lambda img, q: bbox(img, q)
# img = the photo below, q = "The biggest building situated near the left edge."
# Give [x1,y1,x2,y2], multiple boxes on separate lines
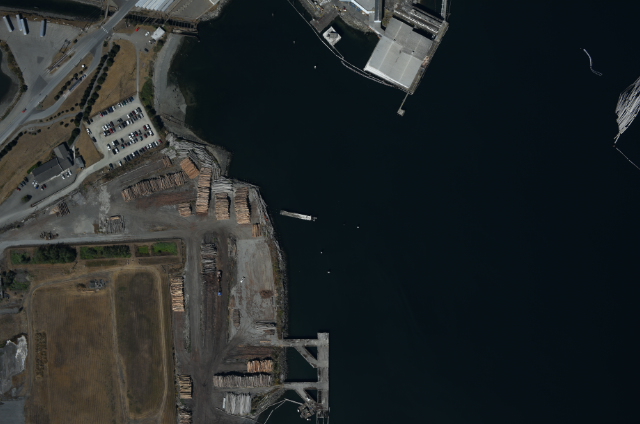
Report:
[31,144,73,185]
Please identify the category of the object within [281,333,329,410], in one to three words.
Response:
pier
